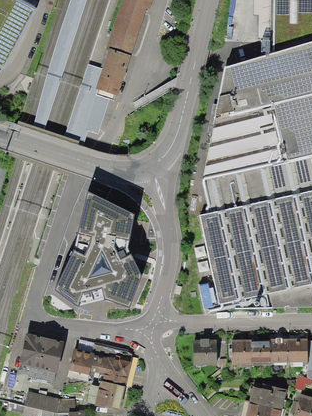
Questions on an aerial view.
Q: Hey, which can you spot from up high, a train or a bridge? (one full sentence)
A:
The image shows a bridge.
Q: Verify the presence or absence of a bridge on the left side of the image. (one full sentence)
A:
Yes, I can see a bridge on the left side of the image.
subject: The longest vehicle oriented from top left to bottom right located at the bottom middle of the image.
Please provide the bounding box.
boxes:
[162,380,186,402]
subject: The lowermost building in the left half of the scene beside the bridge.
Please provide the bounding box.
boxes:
[52,192,142,307]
